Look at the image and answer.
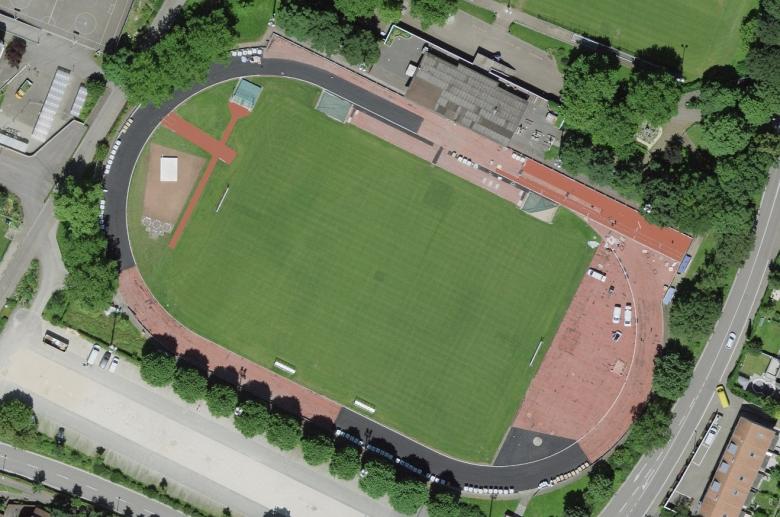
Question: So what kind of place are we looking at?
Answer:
sports ground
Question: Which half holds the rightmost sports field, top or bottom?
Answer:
top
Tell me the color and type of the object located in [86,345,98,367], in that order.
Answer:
white vehicle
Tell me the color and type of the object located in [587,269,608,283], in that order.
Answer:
white vehicle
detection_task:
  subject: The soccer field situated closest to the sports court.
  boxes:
[126,76,603,465]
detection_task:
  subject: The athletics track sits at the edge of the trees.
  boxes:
[104,34,690,492]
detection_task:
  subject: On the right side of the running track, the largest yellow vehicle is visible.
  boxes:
[717,385,730,410]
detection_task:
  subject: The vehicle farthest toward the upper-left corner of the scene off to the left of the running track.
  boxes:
[17,79,32,97]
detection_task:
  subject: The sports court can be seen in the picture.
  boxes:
[0,0,133,55]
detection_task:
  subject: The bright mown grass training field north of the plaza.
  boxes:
[504,0,762,80]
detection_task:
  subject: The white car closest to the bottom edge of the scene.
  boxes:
[702,428,717,447]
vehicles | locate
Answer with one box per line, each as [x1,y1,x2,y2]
[109,356,119,374]
[587,269,608,283]
[612,305,622,324]
[17,79,32,97]
[623,305,632,326]
[86,345,98,367]
[702,428,717,447]
[717,385,730,410]
[99,351,110,369]
[726,332,736,349]
[612,330,622,343]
